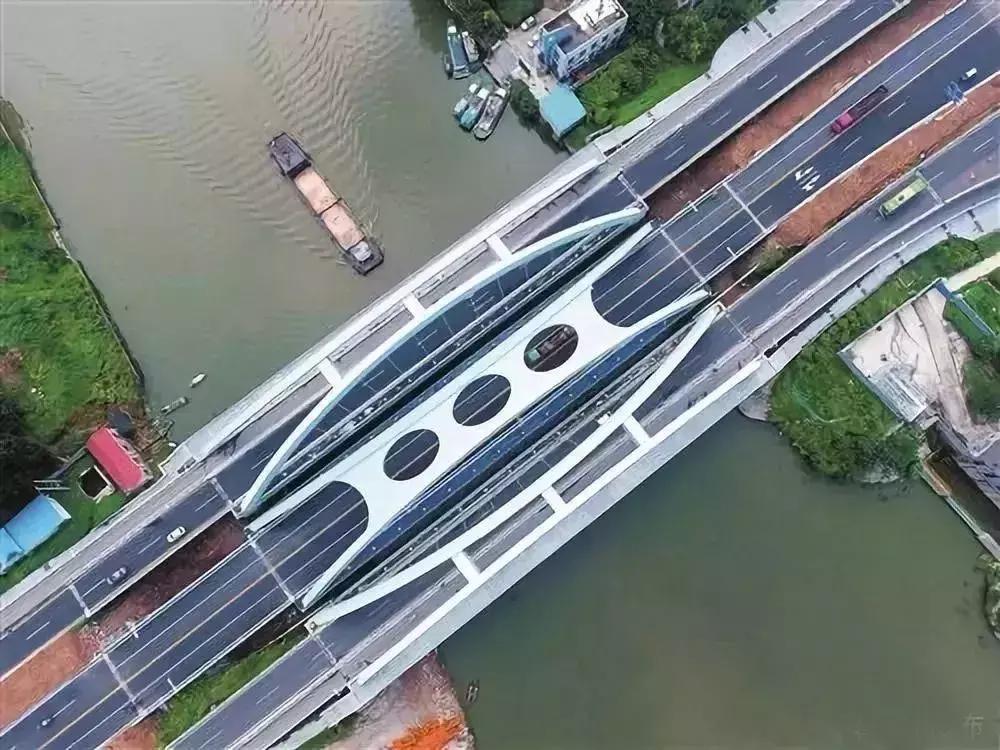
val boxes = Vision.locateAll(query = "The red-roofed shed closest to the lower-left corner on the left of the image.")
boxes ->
[87,426,157,492]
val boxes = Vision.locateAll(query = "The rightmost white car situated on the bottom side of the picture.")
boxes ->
[164,523,188,544]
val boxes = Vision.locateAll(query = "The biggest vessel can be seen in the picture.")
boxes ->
[266,127,378,275]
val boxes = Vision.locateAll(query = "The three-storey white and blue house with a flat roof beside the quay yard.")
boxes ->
[542,0,628,78]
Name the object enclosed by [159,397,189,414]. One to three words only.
boat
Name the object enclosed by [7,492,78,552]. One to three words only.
shed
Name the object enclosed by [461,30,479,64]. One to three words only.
boat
